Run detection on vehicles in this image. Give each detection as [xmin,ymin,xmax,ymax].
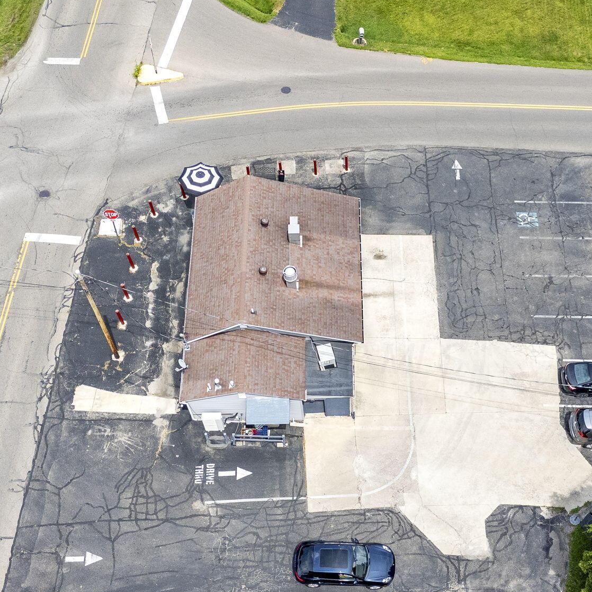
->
[293,538,395,591]
[566,408,592,448]
[558,360,592,397]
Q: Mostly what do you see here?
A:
paved ground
